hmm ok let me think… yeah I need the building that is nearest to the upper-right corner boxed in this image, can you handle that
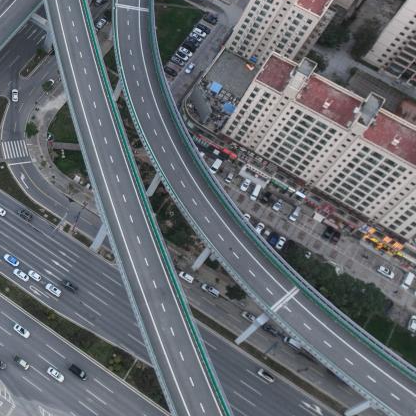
[362,0,416,82]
